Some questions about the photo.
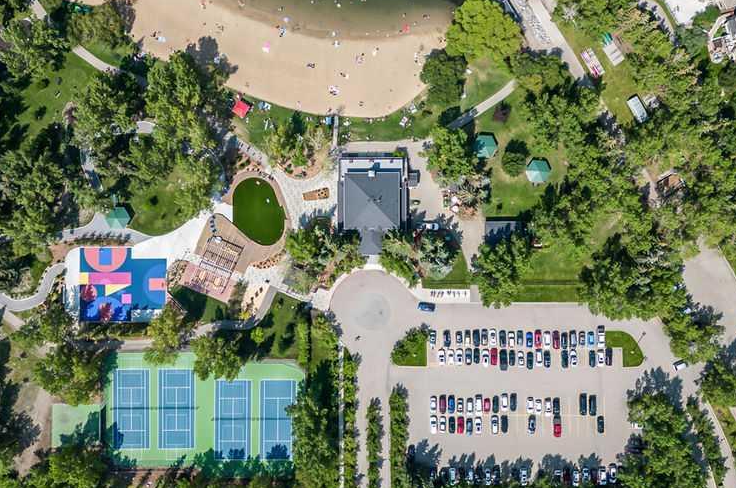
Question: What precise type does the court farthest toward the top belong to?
basketball court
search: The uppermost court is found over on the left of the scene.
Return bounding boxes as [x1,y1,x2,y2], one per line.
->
[66,247,168,323]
